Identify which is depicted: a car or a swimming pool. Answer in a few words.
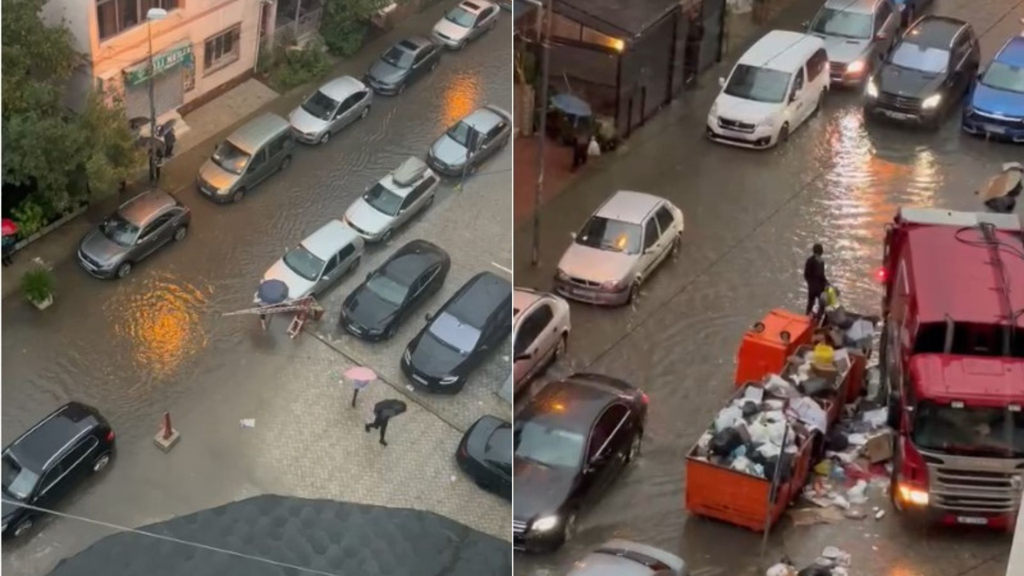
car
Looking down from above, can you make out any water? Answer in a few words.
Yes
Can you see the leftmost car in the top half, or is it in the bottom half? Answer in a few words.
bottom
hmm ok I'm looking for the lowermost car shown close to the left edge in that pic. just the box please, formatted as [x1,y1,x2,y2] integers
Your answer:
[0,408,118,537]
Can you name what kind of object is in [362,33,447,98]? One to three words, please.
car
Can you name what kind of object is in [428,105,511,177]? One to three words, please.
car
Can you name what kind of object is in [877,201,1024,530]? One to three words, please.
truck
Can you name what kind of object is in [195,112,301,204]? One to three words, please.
van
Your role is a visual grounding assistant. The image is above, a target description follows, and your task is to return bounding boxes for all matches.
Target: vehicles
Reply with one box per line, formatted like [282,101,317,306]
[362,33,447,98]
[428,105,511,177]
[513,281,569,393]
[708,25,835,152]
[555,186,688,312]
[877,201,1024,530]
[965,38,1024,152]
[865,10,992,132]
[289,74,376,148]
[428,0,506,52]
[514,363,660,559]
[195,112,301,204]
[0,408,118,537]
[450,425,514,508]
[260,222,367,308]
[340,246,455,340]
[410,285,511,396]
[824,0,935,93]
[75,190,194,280]
[341,163,445,242]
